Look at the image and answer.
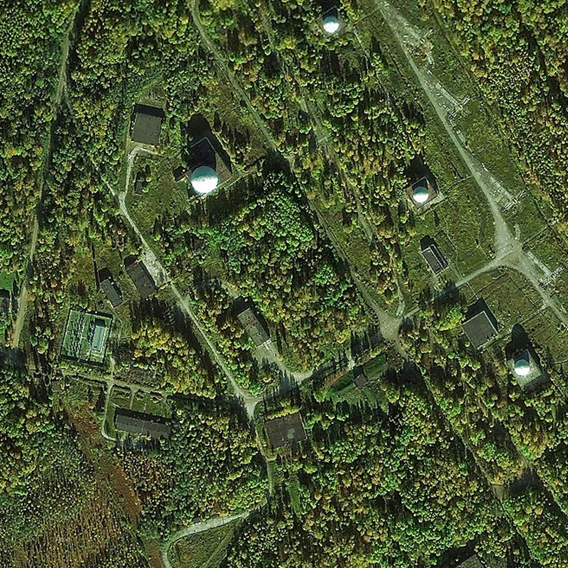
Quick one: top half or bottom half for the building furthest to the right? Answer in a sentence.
It is in the bottom half that the building furthest to the right appears.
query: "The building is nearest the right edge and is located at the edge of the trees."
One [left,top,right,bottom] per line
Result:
[507,349,543,389]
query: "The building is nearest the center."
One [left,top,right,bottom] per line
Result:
[237,307,270,346]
